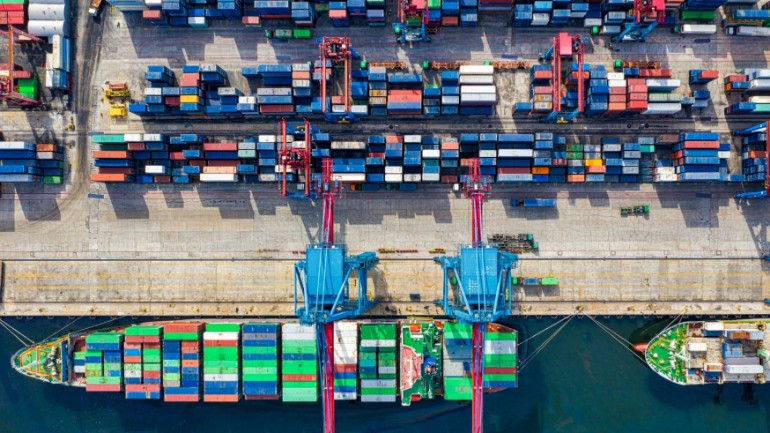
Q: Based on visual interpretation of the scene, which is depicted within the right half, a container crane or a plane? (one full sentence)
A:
The feature located within the right half is a container crane.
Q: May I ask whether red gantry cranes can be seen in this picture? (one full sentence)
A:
Yes, I can see a red gantry crane in this picture.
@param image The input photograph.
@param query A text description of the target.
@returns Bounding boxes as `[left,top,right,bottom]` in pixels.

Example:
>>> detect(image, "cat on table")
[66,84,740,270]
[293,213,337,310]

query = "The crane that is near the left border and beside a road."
[0,26,53,108]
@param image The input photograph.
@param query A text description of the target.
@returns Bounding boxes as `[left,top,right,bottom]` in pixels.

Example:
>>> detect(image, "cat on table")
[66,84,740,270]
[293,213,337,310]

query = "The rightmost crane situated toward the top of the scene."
[727,120,770,199]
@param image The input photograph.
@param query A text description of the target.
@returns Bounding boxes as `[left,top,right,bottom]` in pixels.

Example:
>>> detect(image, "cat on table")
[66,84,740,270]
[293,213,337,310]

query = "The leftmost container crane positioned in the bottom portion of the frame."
[289,153,380,433]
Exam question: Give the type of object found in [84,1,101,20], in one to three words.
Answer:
vehicle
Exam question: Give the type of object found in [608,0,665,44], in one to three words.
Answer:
container crane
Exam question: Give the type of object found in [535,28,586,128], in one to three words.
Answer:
container crane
